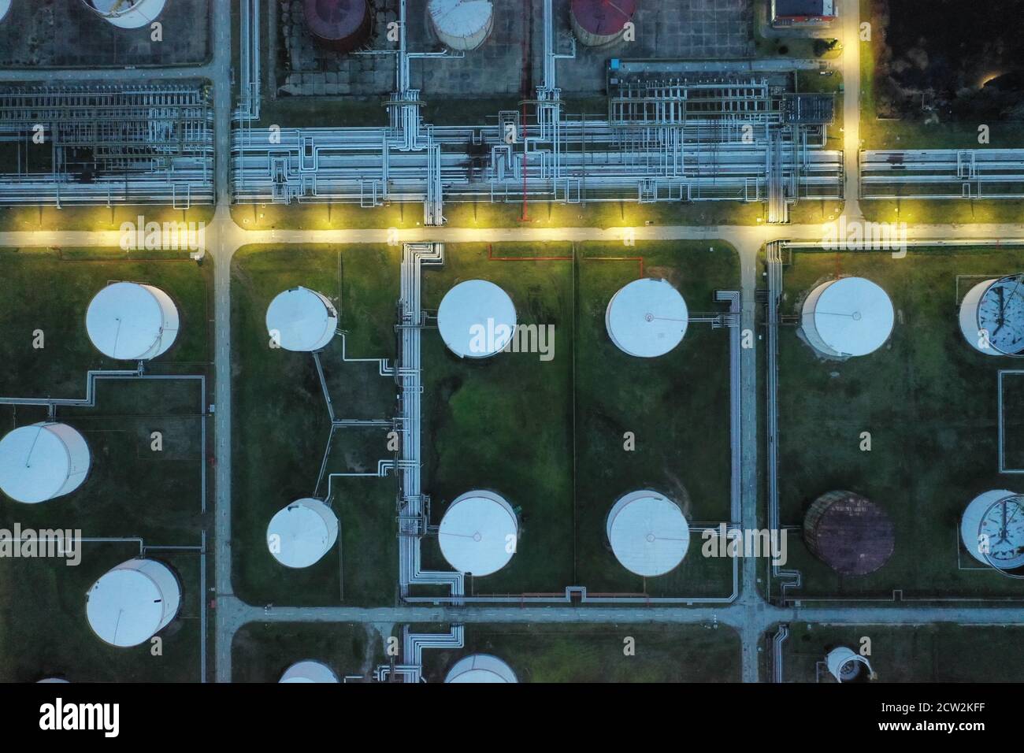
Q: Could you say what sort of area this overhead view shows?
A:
industrial area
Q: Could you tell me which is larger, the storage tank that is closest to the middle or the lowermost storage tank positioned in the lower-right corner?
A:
the storage tank that is closest to the middle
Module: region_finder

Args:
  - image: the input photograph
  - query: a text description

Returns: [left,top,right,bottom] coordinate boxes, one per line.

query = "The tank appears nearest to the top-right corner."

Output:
[958,273,1024,357]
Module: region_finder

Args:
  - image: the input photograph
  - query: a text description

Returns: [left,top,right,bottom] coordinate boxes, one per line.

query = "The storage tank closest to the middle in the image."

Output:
[437,279,518,359]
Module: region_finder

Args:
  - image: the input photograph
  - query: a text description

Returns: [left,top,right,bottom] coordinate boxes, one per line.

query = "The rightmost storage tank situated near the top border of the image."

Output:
[567,0,637,48]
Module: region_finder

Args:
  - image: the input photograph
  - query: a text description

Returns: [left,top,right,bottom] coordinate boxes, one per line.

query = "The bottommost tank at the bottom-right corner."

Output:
[824,644,876,691]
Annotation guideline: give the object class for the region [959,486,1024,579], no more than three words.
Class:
storage tank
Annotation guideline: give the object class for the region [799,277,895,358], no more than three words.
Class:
storage tank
